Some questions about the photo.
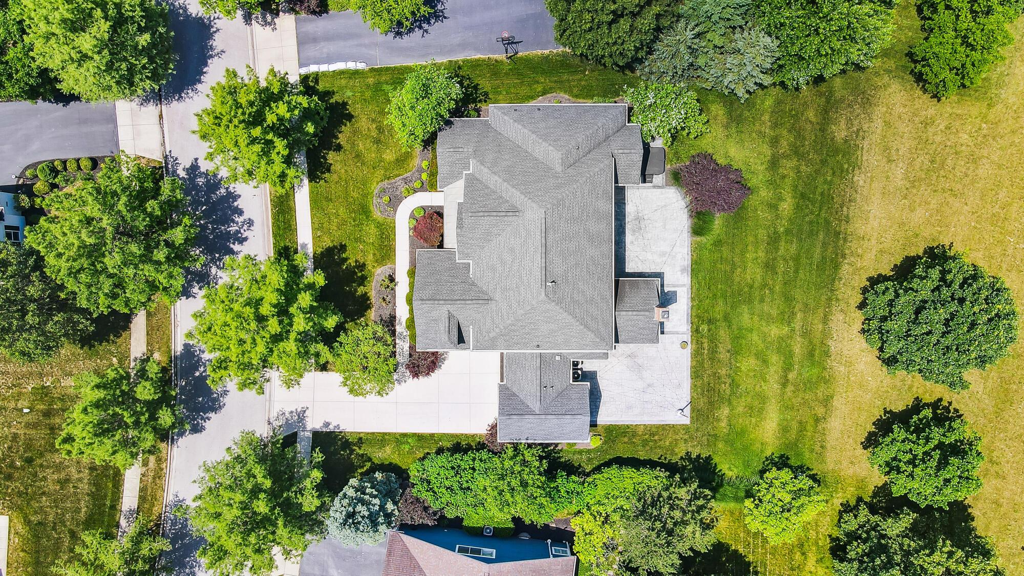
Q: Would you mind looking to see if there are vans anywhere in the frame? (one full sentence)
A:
No, there isn't any van down there.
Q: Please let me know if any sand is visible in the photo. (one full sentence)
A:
No, no sand is visible.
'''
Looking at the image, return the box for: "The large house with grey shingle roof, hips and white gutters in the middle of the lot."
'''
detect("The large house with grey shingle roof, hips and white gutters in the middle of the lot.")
[412,103,670,444]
